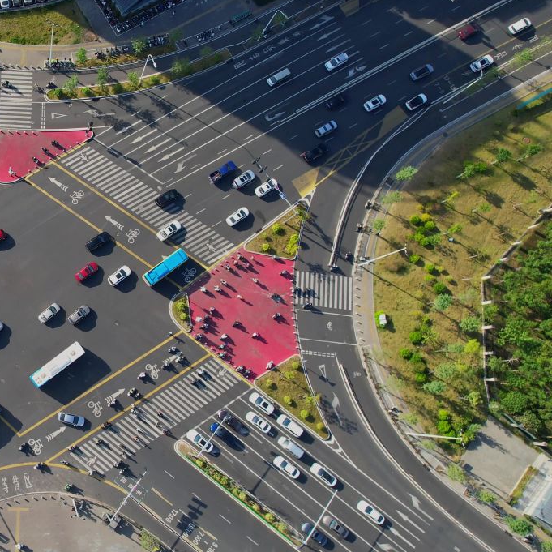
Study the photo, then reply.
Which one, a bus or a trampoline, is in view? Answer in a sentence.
Visible in the photo is a bus.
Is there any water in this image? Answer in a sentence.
No, no water is visible.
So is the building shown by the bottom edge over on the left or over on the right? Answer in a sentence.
It is on the right.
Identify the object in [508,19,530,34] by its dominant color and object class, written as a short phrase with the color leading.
white car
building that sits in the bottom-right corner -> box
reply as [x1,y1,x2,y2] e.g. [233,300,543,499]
[518,478,552,544]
